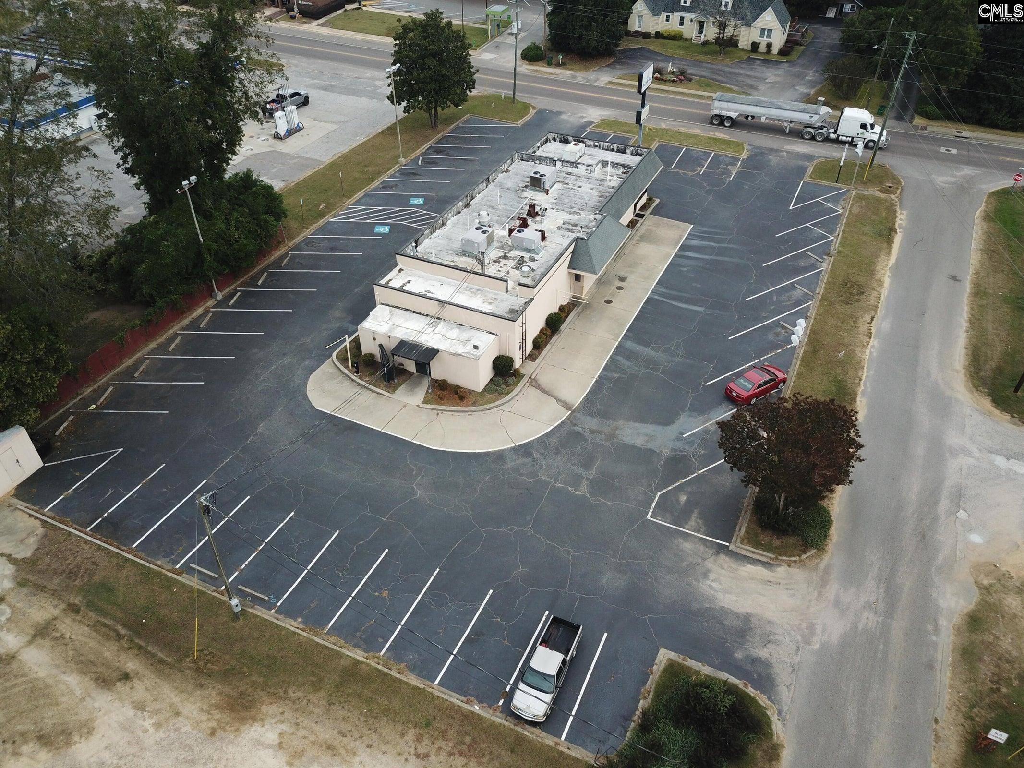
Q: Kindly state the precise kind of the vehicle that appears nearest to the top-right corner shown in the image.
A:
truck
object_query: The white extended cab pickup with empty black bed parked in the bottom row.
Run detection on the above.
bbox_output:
[510,608,590,720]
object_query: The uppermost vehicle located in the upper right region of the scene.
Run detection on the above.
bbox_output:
[713,90,892,150]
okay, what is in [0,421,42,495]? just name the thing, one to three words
shed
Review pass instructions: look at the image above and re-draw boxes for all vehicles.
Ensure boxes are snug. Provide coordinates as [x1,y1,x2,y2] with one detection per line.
[725,364,792,405]
[713,90,892,150]
[256,86,312,112]
[510,608,590,720]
